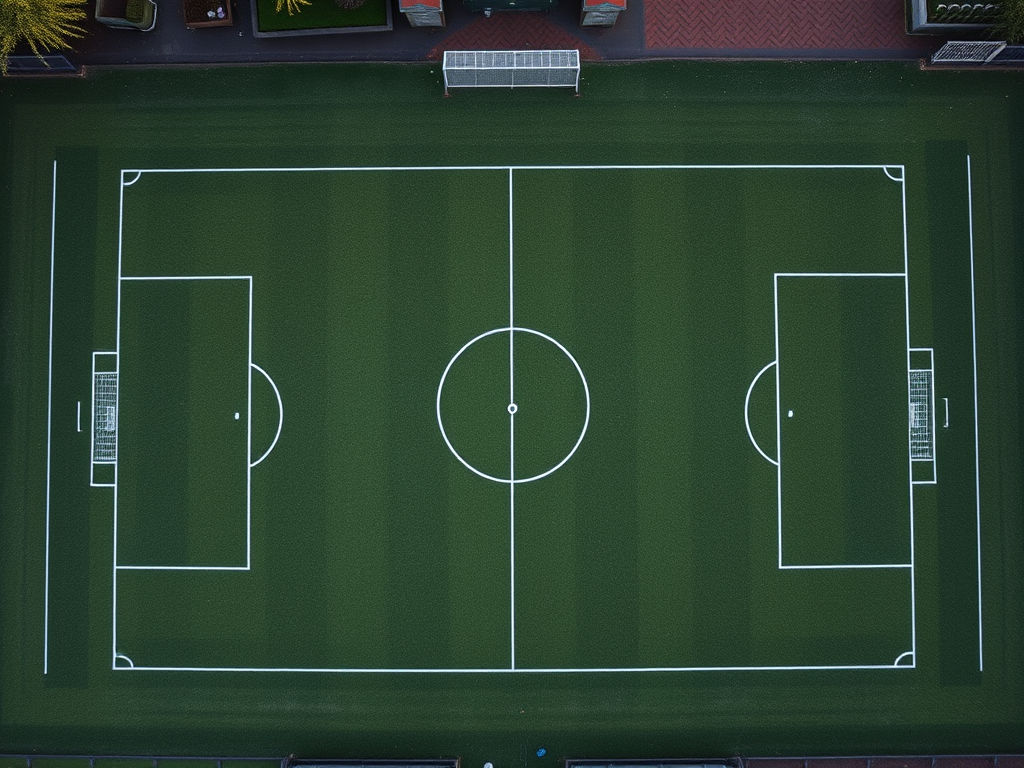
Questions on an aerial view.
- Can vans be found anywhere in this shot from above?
No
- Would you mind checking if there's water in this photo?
No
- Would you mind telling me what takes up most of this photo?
grass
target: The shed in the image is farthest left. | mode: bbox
[399,0,445,28]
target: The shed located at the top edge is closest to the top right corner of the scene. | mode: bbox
[582,0,626,28]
